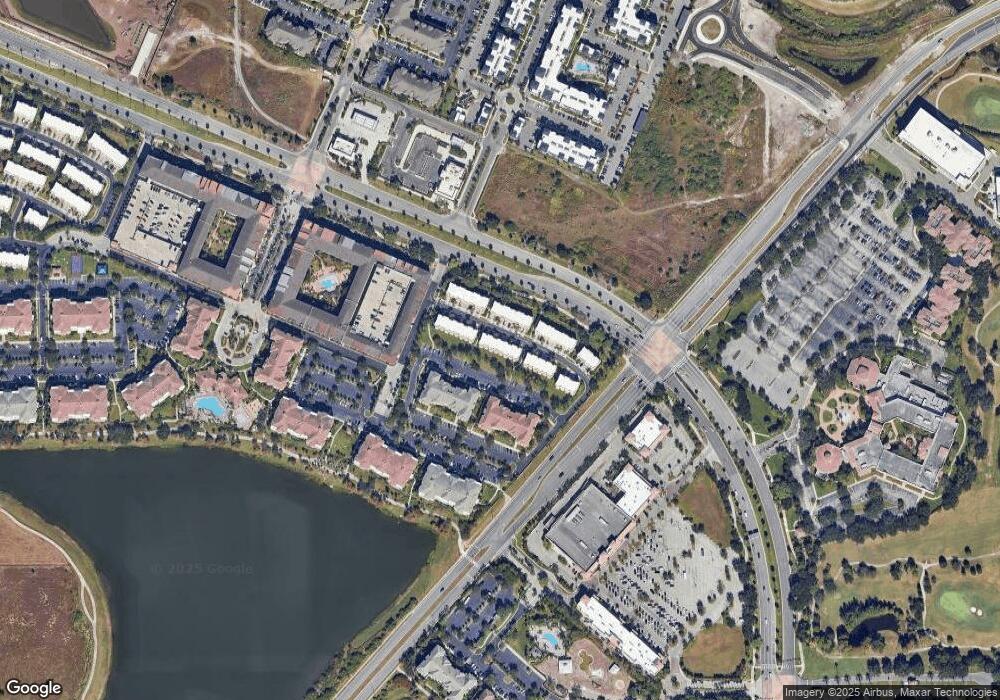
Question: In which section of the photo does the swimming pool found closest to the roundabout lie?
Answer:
top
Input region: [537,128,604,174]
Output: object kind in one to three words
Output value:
building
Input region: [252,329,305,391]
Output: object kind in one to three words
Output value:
building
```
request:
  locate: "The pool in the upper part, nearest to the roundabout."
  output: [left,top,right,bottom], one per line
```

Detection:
[569,57,602,77]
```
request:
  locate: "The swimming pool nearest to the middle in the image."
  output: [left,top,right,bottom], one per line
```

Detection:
[312,273,340,295]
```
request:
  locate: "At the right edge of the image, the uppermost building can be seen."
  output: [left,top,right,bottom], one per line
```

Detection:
[897,107,984,185]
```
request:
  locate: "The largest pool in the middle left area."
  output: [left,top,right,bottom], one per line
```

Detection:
[186,391,240,430]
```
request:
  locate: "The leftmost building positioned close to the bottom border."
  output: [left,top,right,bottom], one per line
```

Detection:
[416,646,478,700]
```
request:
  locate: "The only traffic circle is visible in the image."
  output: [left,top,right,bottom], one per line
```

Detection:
[687,7,734,54]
